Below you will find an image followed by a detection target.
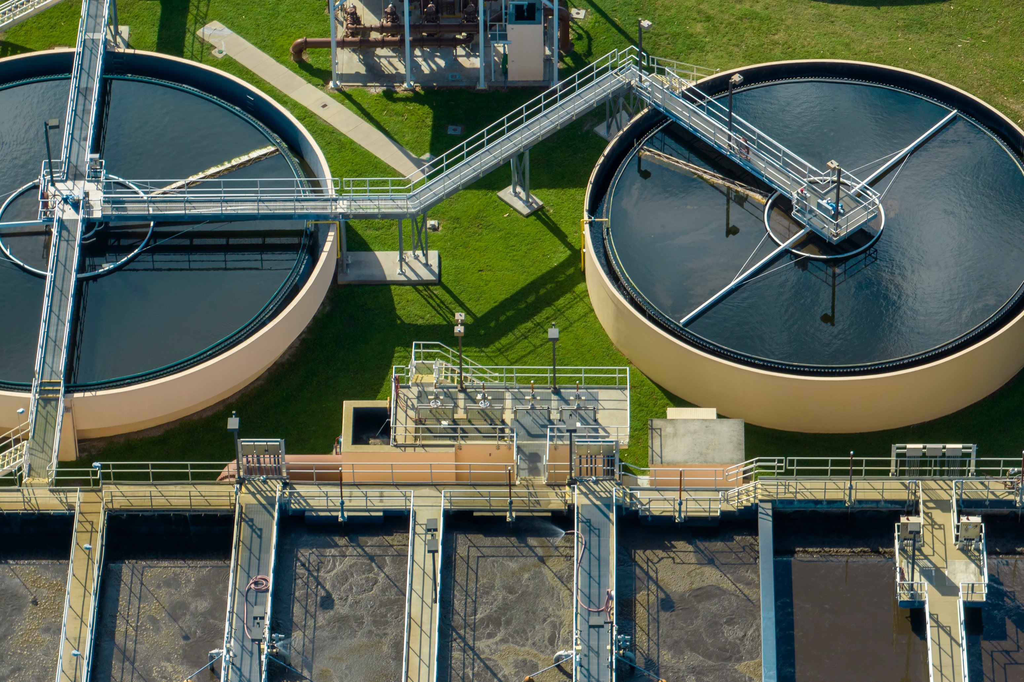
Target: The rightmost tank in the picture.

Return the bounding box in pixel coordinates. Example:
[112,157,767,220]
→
[584,59,1024,433]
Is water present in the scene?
Yes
